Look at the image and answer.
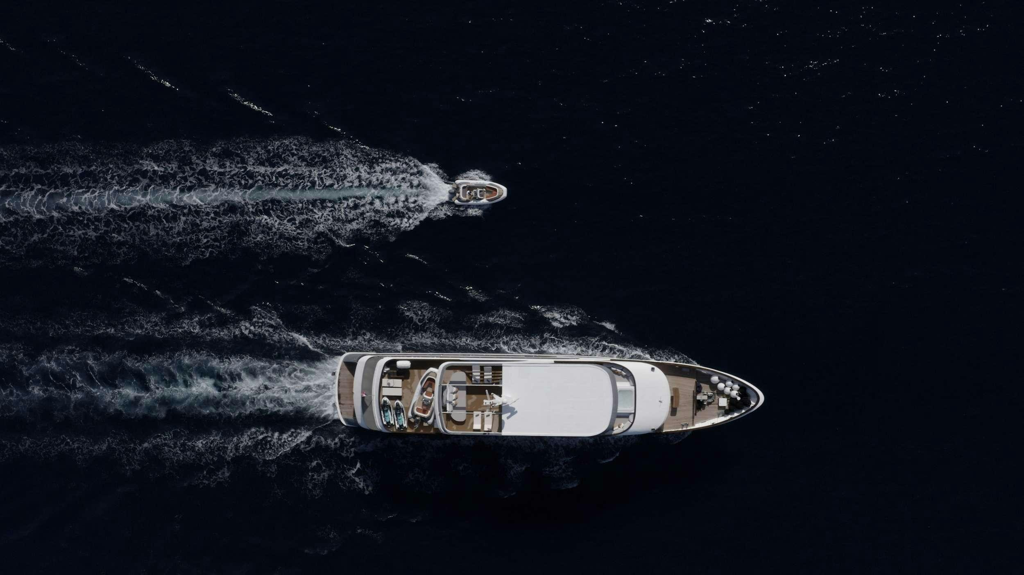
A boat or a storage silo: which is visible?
boat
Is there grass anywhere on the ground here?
No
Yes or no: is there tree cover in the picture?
No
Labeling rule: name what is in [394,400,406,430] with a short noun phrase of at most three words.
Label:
boat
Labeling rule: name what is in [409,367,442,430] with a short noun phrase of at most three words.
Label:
boat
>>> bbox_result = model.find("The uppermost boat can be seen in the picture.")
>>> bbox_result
[449,180,507,205]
